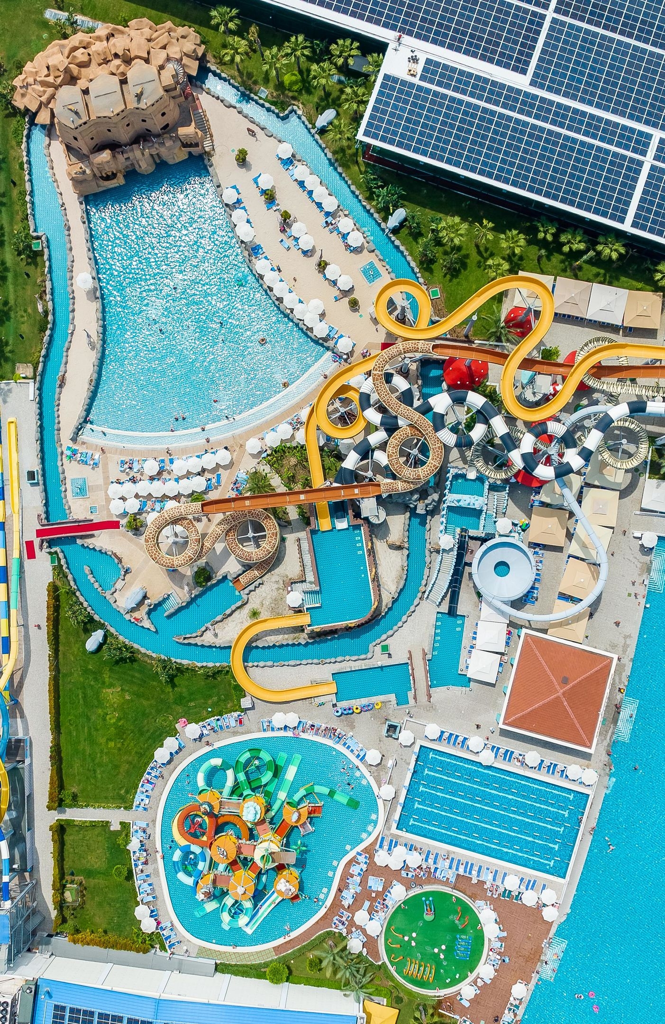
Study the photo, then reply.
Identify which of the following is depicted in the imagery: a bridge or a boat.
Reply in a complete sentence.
There is a bridge in the scene.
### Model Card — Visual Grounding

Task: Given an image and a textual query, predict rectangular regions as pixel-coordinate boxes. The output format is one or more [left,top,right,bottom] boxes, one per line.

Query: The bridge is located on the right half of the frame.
[407,649,433,703]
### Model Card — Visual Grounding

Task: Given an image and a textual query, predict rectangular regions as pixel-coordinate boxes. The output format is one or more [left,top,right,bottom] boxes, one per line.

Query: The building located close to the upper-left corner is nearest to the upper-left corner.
[9,18,209,196]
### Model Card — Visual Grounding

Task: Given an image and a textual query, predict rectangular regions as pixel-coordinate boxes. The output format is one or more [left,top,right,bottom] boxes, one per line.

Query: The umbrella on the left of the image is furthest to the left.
[78,274,93,290]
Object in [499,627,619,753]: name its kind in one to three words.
building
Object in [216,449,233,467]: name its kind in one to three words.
umbrella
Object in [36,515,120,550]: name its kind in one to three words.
bridge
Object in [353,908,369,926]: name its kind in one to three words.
umbrella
